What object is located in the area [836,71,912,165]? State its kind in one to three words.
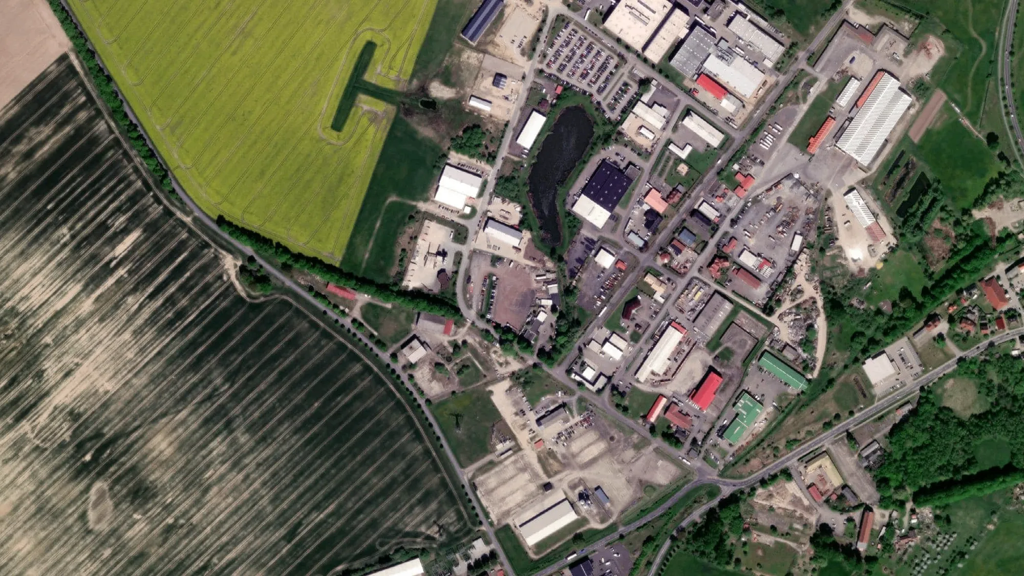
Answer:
building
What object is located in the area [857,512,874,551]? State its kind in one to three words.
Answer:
barn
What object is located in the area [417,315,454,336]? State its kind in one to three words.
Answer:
barn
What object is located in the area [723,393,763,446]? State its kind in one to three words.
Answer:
building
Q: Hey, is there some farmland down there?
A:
Yes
